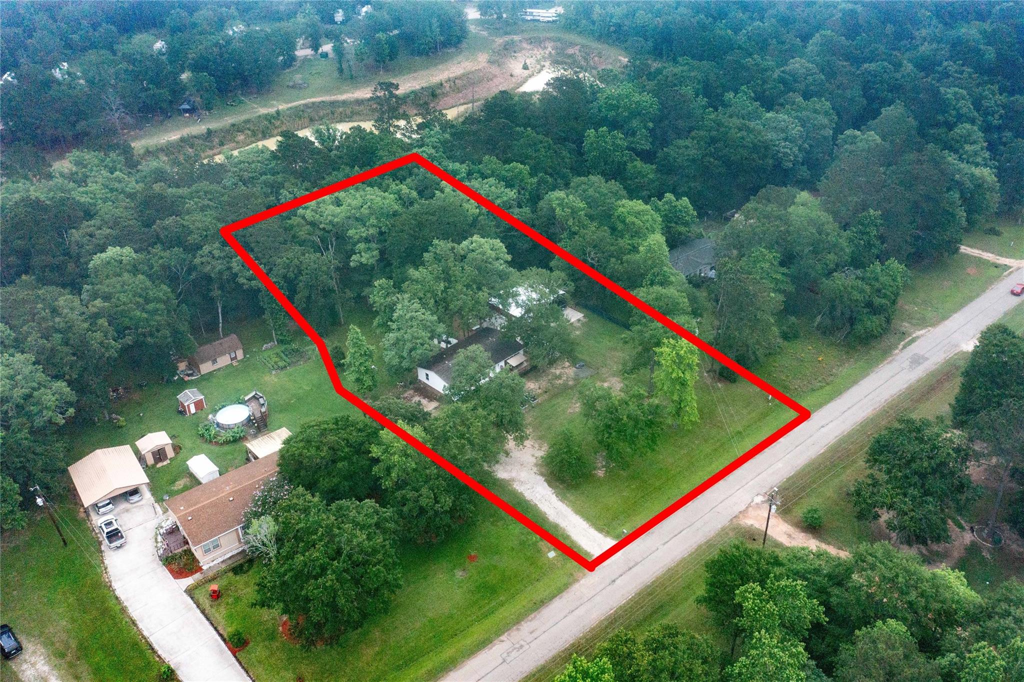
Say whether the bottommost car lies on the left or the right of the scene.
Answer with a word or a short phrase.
left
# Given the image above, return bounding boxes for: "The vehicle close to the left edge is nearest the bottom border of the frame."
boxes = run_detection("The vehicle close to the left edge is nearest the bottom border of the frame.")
[0,622,29,668]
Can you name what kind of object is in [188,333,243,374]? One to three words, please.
shed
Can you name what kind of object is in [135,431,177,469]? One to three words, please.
shed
